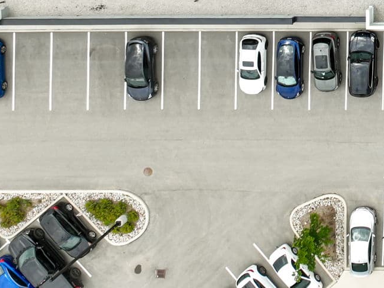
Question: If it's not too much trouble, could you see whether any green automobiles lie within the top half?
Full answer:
No, looking within the top half, there is no green automobile.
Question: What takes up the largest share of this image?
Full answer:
The largest share of the image is taken up by paved ground.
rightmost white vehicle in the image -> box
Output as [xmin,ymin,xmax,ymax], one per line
[347,207,378,276]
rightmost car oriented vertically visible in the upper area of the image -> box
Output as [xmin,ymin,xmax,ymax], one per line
[347,31,378,98]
